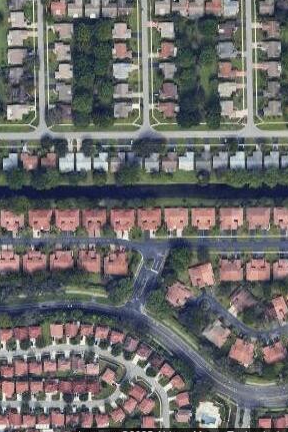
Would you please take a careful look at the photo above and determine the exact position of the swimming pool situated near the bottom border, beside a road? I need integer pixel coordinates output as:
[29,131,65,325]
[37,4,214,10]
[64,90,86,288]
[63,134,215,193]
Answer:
[196,402,220,427]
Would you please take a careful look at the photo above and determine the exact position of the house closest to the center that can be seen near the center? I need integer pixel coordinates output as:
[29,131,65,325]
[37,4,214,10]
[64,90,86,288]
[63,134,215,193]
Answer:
[139,209,162,231]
